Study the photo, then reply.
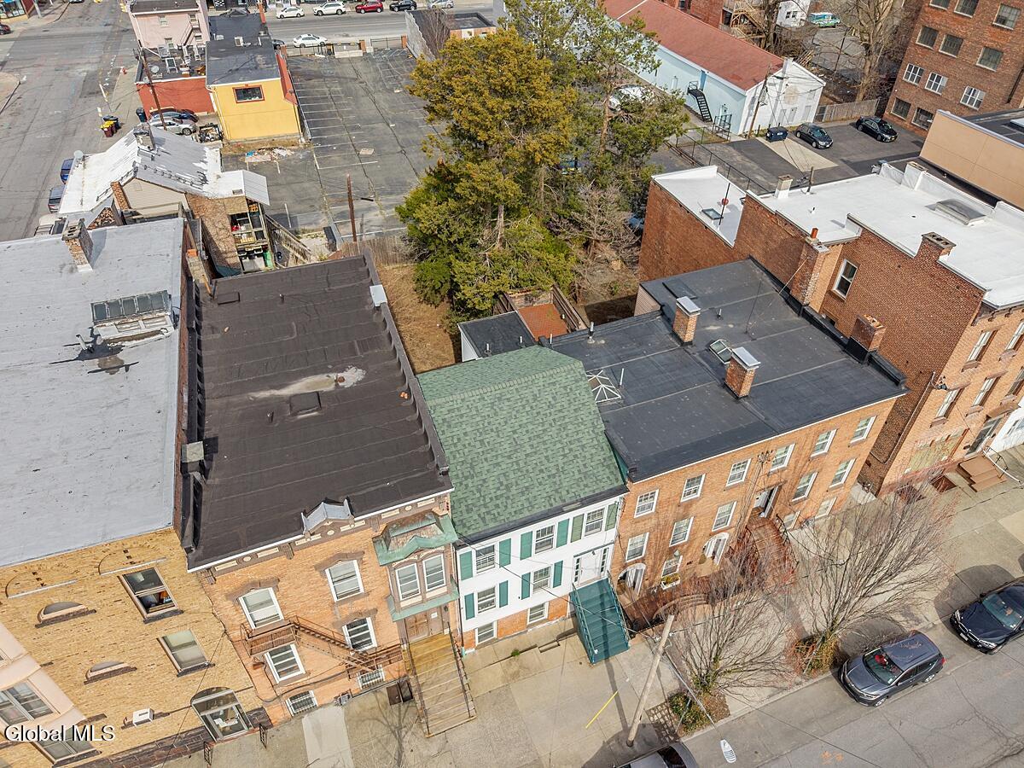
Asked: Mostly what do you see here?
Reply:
buildings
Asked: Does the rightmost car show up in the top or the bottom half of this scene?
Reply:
bottom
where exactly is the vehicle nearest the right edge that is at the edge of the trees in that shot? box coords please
[941,580,1024,661]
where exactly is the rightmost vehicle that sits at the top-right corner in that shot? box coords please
[849,118,897,142]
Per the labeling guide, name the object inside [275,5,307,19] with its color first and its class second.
white car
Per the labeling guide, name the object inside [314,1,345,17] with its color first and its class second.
white car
